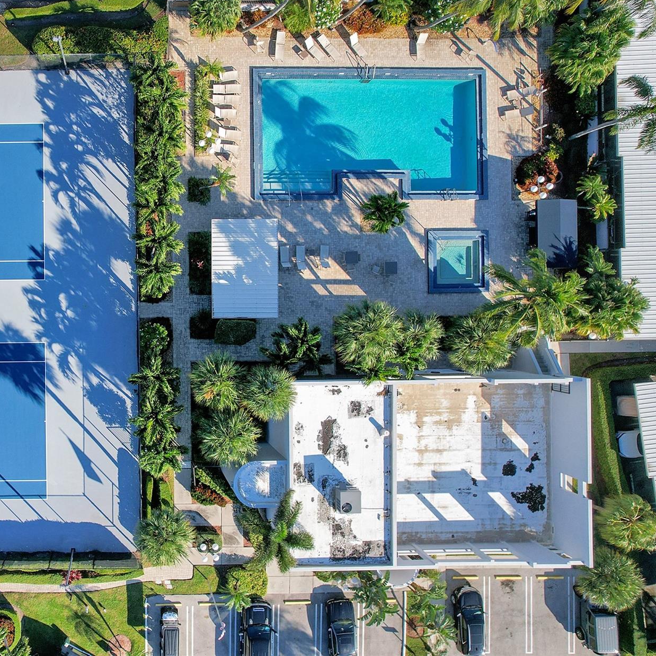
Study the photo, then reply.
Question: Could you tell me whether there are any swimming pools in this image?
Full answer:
Yes, a swimming pool can be made out from above.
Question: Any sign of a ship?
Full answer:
No, no ship can be seen from above.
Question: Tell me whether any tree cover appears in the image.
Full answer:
Yes, there is tree cover in the image.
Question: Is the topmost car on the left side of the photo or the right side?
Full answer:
The topmost car sits on the right side.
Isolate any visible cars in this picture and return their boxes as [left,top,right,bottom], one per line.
[243,599,277,656]
[448,584,487,656]
[325,599,360,656]
[611,427,643,456]
[611,391,638,418]
[153,608,184,656]
[575,580,619,656]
